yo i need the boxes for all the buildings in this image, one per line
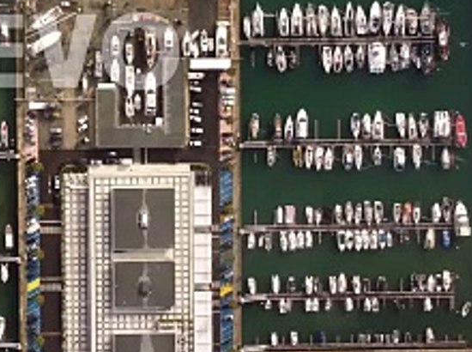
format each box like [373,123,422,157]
[62,160,212,352]
[94,56,189,147]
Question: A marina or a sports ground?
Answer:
marina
